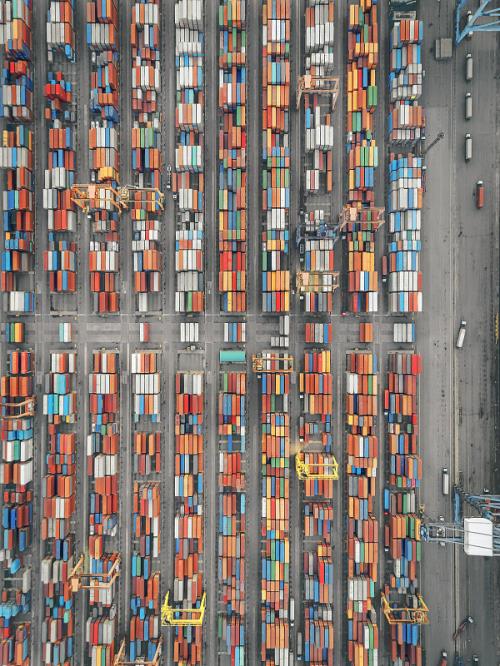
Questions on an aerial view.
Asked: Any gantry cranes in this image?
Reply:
Yes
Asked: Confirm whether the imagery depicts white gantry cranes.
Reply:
Yes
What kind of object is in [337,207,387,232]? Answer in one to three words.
container crane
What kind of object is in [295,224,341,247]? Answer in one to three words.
container crane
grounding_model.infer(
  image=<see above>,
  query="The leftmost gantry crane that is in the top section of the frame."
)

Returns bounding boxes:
[71,185,123,210]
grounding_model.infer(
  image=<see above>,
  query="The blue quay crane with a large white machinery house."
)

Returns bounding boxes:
[419,485,500,557]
